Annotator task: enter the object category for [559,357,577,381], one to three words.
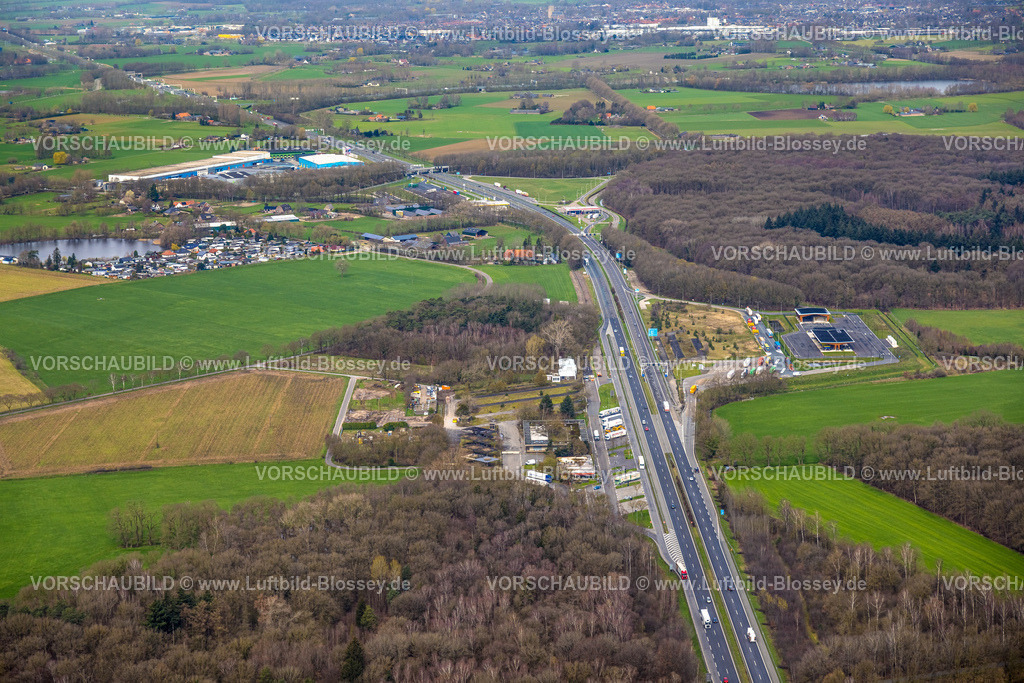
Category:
building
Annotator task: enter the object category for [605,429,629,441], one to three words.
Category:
vehicle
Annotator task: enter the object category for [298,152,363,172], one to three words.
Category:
building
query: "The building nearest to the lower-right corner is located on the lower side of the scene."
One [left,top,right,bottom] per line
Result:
[556,456,595,482]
